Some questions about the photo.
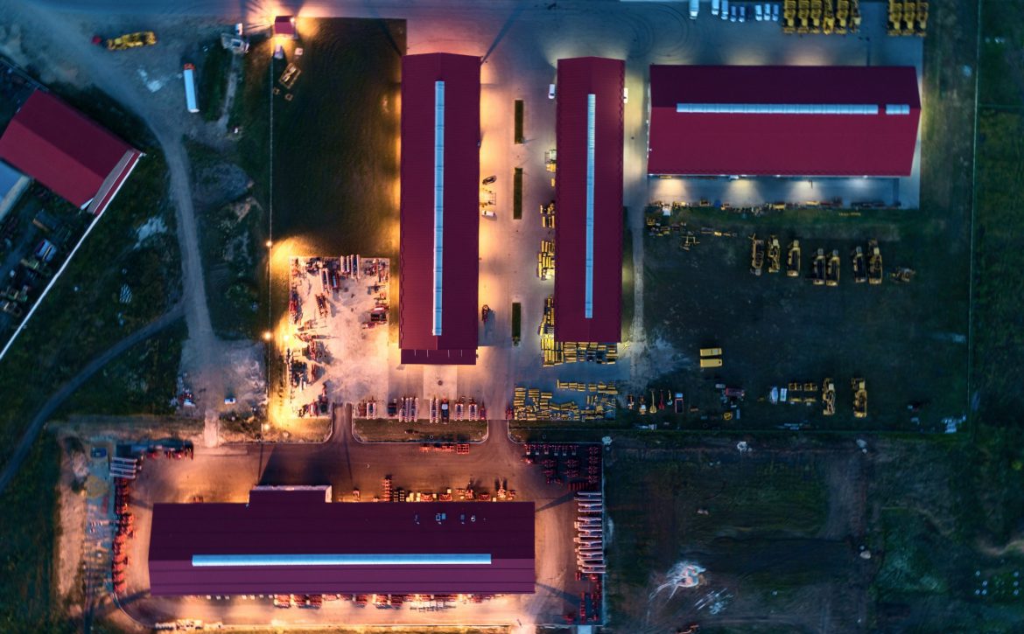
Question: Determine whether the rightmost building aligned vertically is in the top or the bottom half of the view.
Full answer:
It is in the top half that the rightmost building aligned vertically appears.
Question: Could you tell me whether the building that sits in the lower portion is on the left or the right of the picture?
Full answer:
The building that sits in the lower portion is on the left side of the image.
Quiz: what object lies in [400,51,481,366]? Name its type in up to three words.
building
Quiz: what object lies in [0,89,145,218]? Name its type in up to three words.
warehouse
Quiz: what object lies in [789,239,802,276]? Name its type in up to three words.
vehicle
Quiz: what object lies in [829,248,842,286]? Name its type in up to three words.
vehicle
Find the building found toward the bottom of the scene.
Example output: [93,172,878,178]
[141,486,535,596]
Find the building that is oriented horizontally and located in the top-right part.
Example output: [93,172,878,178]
[647,65,924,179]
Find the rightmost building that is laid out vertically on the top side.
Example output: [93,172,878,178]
[555,55,625,342]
